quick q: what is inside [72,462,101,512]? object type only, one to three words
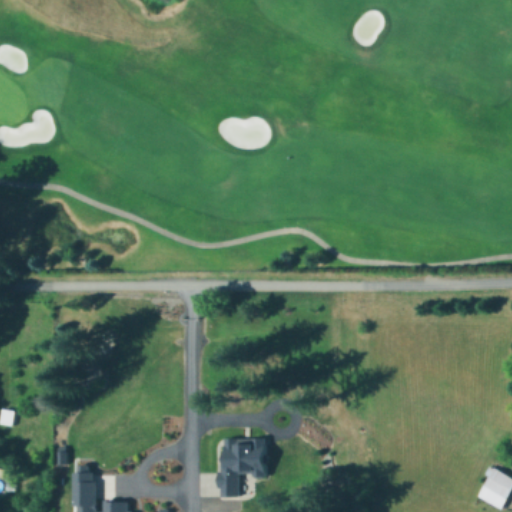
house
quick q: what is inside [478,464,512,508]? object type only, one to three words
barn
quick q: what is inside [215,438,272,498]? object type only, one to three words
house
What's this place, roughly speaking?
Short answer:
golf course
